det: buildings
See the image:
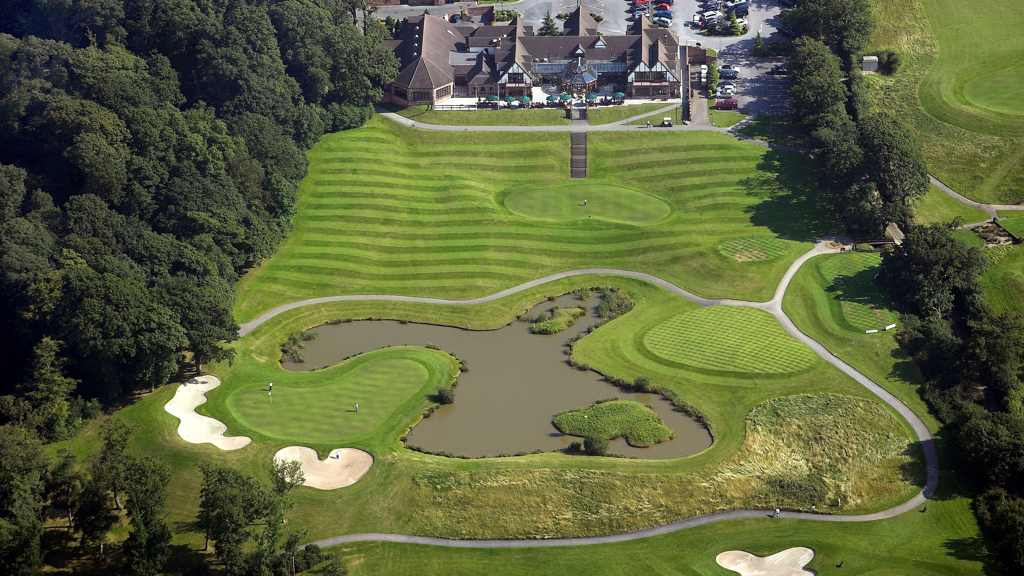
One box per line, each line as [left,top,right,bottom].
[382,5,684,103]
[370,0,477,6]
[862,55,877,69]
